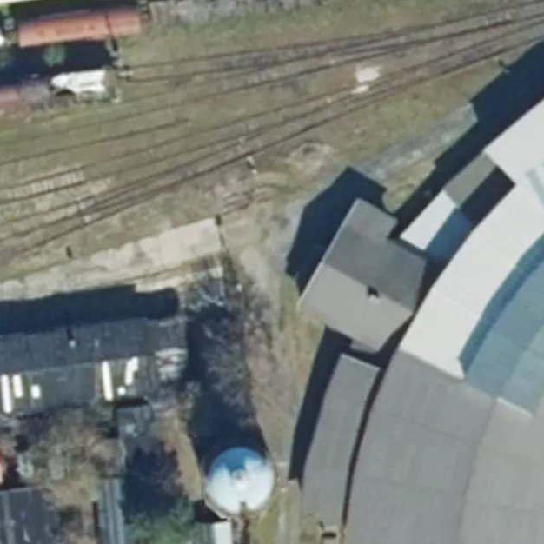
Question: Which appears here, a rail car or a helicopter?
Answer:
rail car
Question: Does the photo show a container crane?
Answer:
No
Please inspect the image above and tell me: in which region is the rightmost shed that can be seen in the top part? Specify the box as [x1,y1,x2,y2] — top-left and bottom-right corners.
[445,153,510,221]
